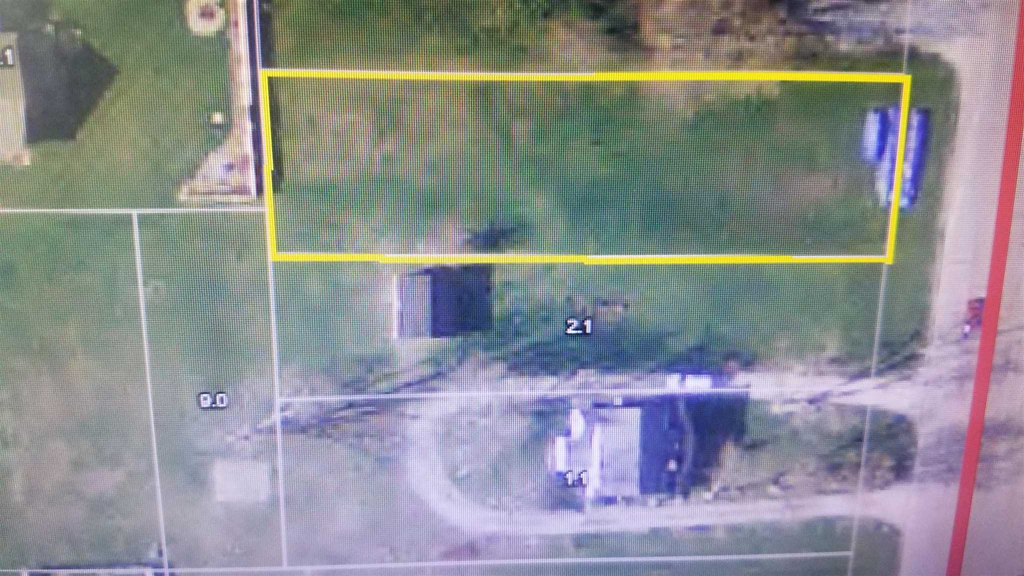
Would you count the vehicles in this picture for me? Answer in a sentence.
The photo contains 2 vehicles.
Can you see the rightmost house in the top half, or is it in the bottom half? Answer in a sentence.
You can find the rightmost house in the bottom half.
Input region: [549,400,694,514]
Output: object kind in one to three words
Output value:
house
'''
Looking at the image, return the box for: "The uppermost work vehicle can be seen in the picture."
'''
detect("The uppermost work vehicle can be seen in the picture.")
[962,298,983,342]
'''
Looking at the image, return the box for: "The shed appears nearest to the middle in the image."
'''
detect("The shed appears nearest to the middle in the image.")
[394,274,470,339]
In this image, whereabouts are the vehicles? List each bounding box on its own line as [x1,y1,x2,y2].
[665,371,729,394]
[962,298,983,342]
